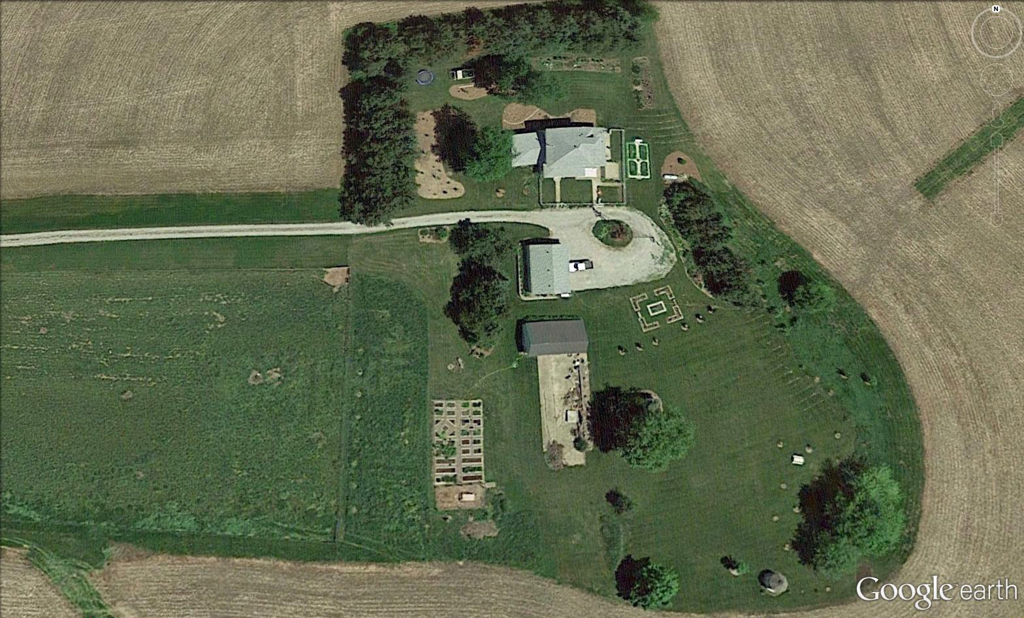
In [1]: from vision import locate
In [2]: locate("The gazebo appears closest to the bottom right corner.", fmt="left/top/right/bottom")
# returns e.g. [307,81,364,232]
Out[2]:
[764,568,788,596]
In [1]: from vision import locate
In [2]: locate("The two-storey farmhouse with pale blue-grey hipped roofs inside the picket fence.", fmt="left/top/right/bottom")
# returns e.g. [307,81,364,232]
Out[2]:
[507,128,607,178]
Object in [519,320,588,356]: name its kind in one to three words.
shed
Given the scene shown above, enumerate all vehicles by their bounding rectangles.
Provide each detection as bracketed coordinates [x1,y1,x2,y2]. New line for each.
[569,260,593,272]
